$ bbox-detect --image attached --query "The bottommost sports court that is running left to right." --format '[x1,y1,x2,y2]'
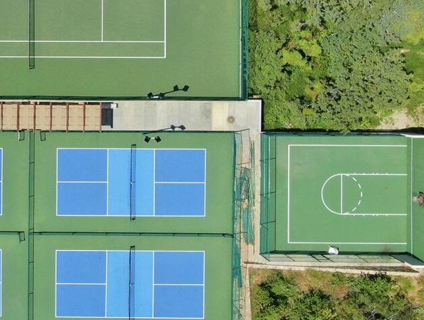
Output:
[55,250,205,319]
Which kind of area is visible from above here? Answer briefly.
sports ground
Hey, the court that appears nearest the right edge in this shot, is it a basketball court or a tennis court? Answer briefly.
basketball court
